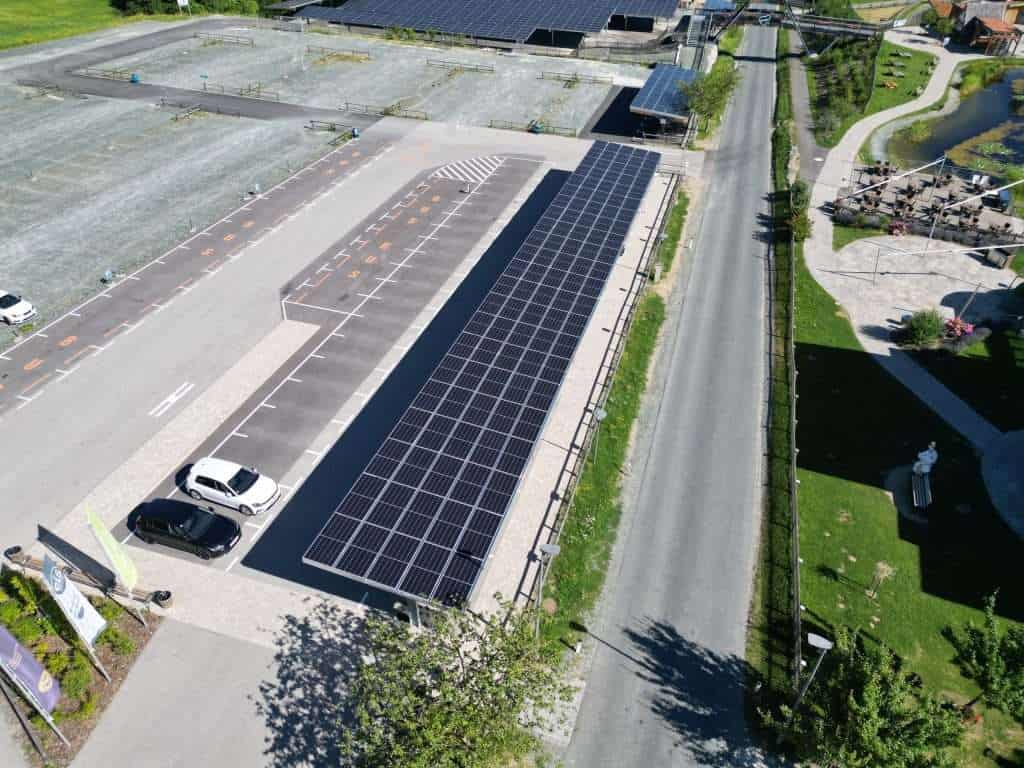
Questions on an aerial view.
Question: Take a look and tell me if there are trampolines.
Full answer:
No, this view has no trampoline in it.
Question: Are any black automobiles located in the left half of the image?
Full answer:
Yes, I can see a black automobile in the left half of the image.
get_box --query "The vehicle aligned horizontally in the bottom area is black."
[122,496,238,564]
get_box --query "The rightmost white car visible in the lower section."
[183,460,283,521]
